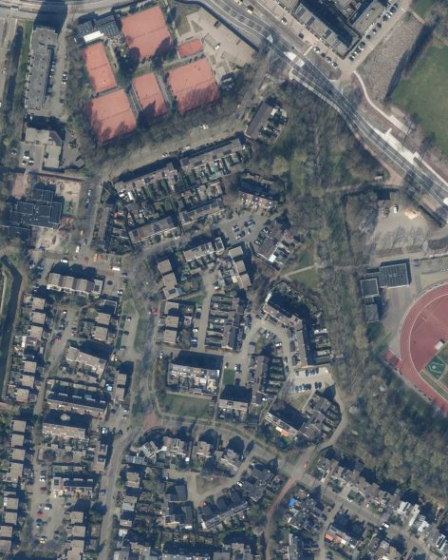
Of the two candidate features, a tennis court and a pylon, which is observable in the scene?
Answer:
tennis court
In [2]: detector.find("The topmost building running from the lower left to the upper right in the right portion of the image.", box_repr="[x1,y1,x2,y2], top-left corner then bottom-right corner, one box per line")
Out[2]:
[352,0,390,33]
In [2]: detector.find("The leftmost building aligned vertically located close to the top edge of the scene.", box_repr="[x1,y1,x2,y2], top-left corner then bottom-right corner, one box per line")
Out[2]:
[20,25,53,113]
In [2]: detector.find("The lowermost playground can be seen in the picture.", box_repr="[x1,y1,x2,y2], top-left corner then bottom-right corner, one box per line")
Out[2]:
[38,231,63,252]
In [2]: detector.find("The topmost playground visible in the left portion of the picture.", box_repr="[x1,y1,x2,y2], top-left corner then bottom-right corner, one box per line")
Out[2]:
[57,183,81,219]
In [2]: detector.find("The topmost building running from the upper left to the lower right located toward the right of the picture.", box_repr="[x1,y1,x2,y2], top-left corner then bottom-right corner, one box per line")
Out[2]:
[291,0,347,54]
